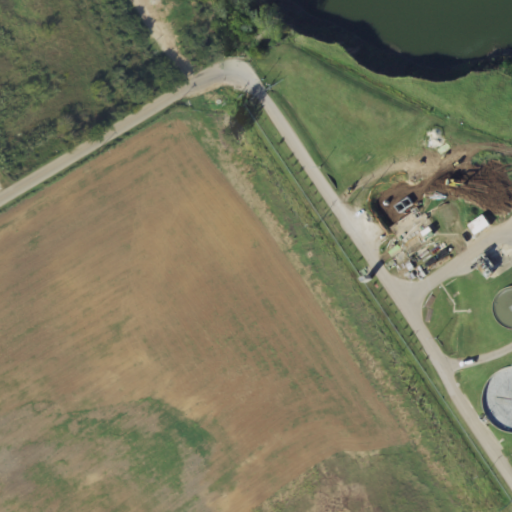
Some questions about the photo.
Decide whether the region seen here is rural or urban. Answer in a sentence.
The area is rural.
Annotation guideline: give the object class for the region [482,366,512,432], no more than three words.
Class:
storage tank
